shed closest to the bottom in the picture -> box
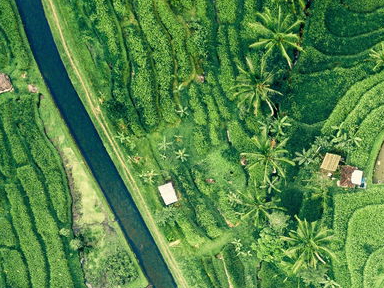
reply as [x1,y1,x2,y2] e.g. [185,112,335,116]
[158,182,183,206]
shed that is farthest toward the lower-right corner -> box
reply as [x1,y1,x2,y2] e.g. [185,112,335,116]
[339,167,358,190]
